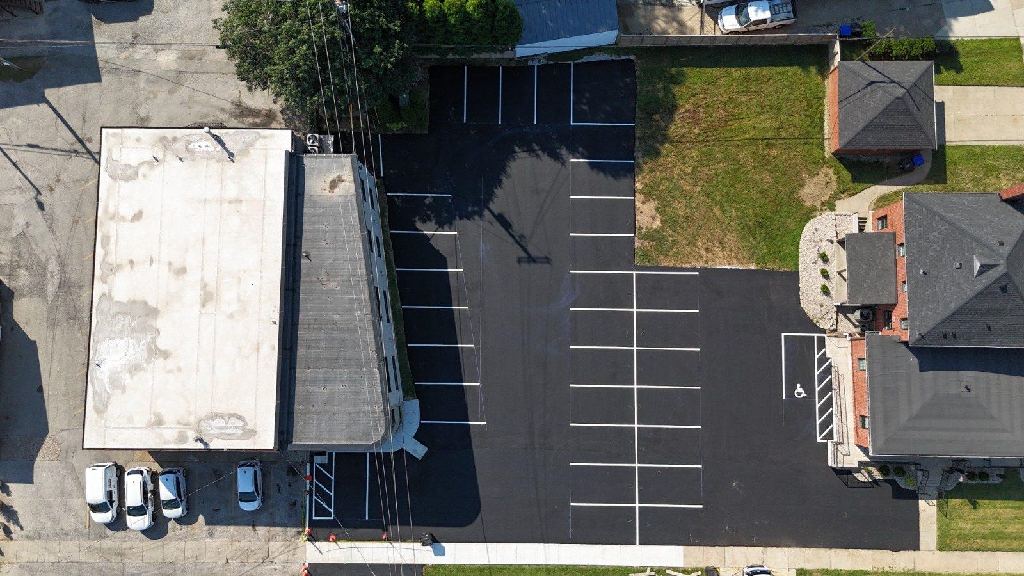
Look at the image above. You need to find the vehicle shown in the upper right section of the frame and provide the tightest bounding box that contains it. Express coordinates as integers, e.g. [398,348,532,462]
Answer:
[718,0,799,34]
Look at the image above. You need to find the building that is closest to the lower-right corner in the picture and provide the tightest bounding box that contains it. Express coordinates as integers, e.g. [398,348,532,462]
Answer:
[832,185,1024,459]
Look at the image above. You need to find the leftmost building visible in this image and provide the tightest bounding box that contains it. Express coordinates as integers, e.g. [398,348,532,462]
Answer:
[82,127,312,451]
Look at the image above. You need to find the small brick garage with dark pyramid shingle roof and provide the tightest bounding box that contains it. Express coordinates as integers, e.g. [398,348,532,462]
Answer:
[824,60,938,157]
